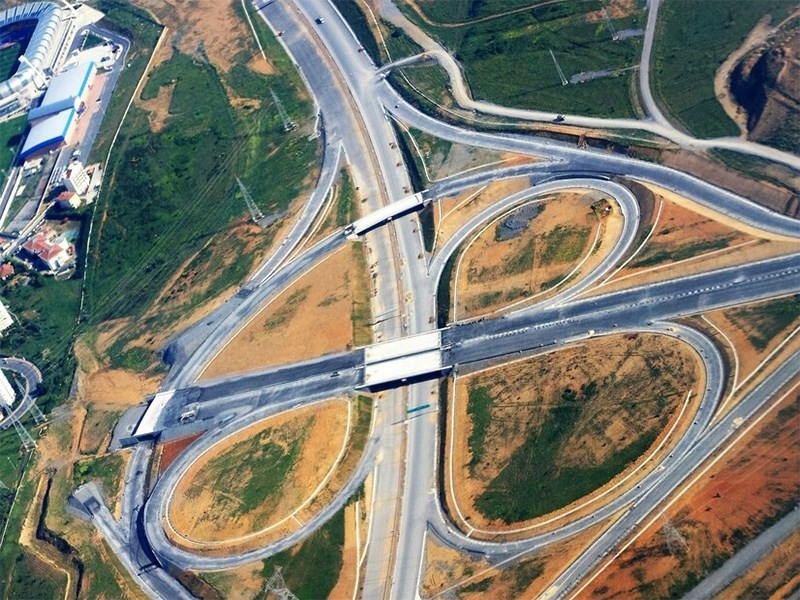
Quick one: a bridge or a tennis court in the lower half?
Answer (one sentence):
The feature located in the lower half is a bridge.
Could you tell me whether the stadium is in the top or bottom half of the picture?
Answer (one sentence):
The stadium is in the top half of the image.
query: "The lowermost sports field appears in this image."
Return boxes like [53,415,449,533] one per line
[0,119,31,193]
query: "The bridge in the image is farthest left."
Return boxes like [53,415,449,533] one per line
[118,389,176,446]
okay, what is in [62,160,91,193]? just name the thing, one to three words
building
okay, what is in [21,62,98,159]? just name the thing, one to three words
building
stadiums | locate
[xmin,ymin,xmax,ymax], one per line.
[0,0,78,127]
